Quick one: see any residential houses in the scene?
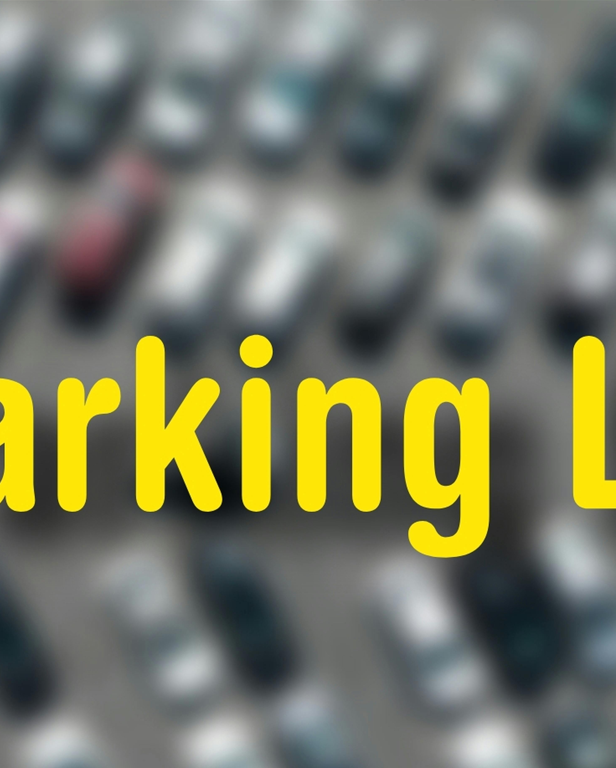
No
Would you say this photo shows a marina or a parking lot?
parking lot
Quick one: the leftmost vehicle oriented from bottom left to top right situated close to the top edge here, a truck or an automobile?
automobile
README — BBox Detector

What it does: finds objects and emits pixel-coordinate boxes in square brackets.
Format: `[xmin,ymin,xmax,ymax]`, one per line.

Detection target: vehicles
[326,200,444,356]
[272,699,372,768]
[535,190,616,345]
[238,2,359,164]
[186,719,273,768]
[0,550,61,722]
[529,517,616,688]
[44,166,168,319]
[0,21,47,140]
[422,46,537,200]
[21,711,108,768]
[139,0,261,161]
[0,191,51,324]
[319,28,444,188]
[183,528,311,703]
[135,185,261,344]
[31,27,152,180]
[437,531,572,708]
[93,542,217,710]
[227,197,347,352]
[355,542,483,714]
[435,197,551,351]
[530,37,616,197]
